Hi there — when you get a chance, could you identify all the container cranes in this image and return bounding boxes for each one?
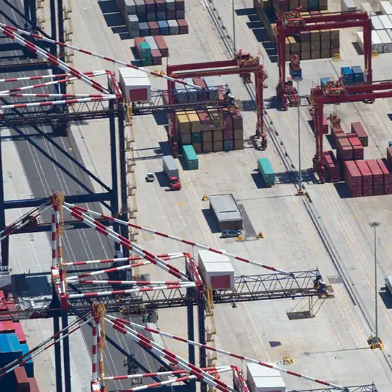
[0,24,243,298]
[0,301,378,392]
[271,3,373,108]
[0,190,334,392]
[0,0,82,138]
[163,44,269,156]
[309,72,392,182]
